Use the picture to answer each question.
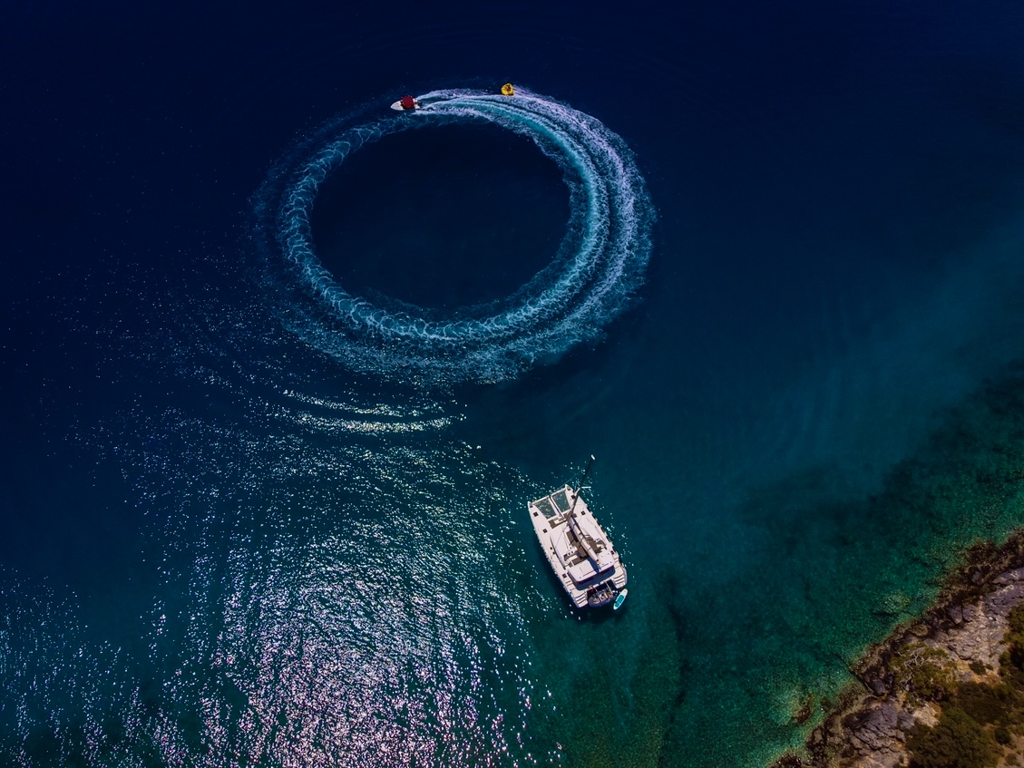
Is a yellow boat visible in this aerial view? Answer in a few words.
No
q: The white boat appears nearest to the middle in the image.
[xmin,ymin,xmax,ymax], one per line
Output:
[496,446,624,609]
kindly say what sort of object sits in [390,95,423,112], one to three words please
boat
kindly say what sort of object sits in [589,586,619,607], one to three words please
boat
